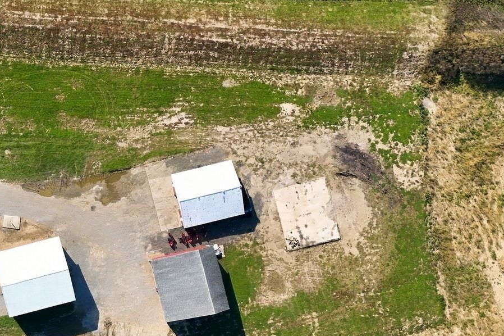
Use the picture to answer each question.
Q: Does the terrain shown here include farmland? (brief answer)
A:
Yes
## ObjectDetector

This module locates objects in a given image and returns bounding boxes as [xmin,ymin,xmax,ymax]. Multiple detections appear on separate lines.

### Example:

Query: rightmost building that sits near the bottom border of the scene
[147,244,229,323]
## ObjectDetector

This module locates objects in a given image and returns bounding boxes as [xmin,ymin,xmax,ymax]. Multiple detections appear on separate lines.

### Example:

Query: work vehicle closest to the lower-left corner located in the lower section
[165,234,178,249]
